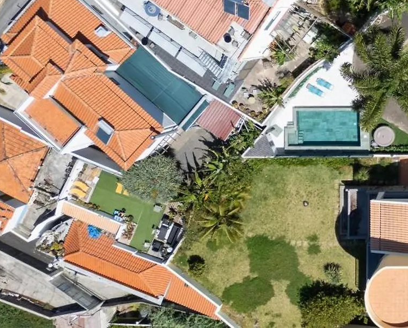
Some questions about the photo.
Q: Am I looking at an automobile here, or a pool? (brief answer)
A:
pool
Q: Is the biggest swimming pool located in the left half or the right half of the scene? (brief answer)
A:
right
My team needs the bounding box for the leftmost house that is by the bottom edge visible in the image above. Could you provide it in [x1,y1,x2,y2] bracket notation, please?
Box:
[60,197,249,328]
